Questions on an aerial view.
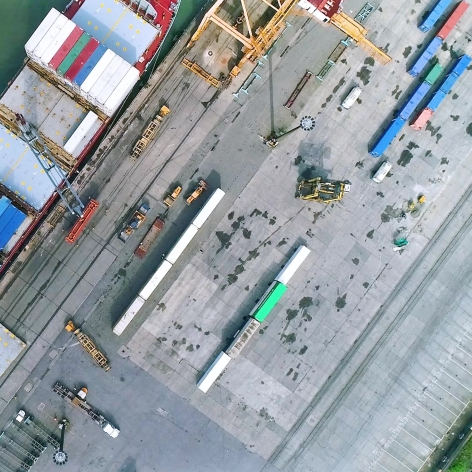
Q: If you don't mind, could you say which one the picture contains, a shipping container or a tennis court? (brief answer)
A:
shipping container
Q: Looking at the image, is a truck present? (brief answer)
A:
Yes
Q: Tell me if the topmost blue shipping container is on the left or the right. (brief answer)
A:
right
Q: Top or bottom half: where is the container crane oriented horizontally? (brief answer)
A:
top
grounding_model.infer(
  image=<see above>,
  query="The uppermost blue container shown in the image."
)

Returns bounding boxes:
[416,0,451,34]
